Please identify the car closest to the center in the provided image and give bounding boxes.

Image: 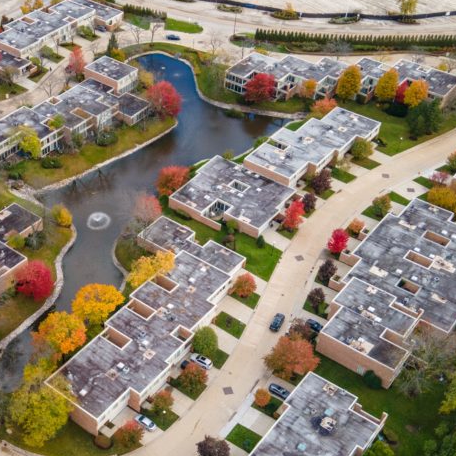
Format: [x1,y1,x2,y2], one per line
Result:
[271,312,284,331]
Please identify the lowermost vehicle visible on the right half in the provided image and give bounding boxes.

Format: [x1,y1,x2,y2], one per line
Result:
[267,382,292,400]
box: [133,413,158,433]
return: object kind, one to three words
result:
car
